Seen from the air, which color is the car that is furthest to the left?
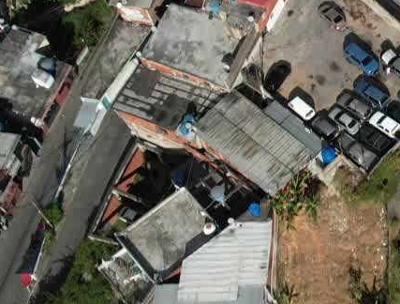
black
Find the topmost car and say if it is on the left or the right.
right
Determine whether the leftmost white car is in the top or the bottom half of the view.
top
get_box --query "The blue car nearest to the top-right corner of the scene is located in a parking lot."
[340,41,381,75]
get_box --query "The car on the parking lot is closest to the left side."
[262,60,294,92]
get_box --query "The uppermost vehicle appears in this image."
[318,2,348,31]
